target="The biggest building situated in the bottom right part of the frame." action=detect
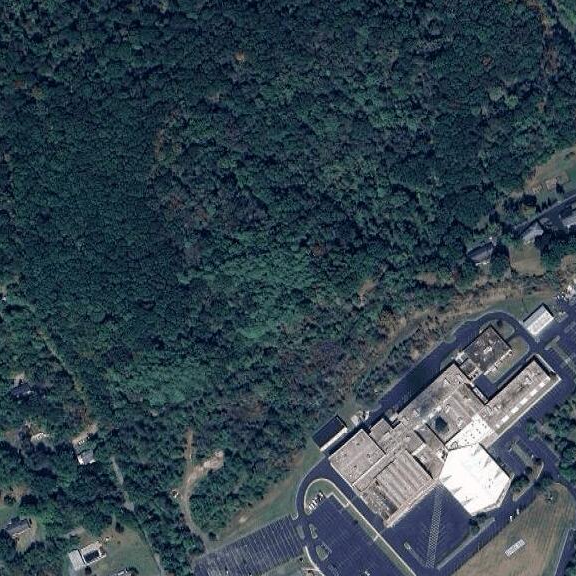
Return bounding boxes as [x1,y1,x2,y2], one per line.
[330,326,561,529]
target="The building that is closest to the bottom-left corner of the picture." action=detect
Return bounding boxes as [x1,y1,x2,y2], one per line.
[6,519,32,543]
